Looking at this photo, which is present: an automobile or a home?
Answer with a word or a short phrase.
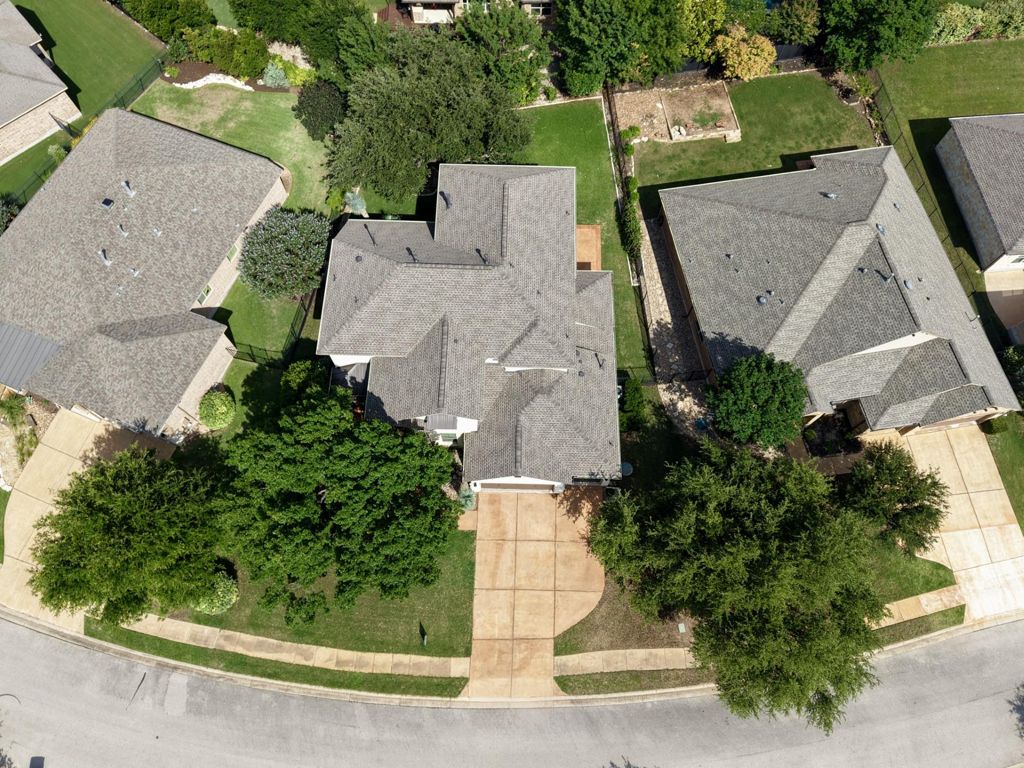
home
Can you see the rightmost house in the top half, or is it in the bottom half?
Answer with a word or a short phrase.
top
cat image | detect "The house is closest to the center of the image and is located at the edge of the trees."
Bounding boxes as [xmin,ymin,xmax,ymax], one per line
[315,163,621,491]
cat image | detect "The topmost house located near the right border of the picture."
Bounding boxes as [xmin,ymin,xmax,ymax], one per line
[935,112,1024,272]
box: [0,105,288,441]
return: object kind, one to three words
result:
house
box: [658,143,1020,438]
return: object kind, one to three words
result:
house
